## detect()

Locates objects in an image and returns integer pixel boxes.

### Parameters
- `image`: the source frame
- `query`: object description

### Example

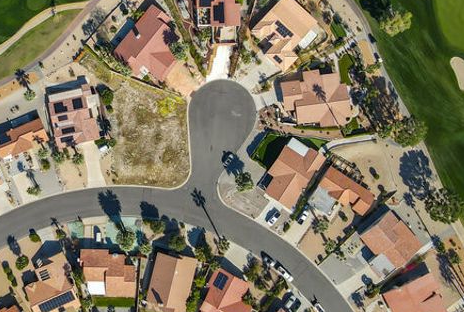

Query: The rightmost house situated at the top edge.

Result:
[253,0,318,69]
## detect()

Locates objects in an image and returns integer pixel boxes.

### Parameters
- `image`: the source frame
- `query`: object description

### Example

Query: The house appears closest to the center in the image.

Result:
[255,137,324,213]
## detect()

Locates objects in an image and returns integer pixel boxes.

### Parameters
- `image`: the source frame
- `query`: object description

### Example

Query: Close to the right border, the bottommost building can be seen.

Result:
[383,271,448,312]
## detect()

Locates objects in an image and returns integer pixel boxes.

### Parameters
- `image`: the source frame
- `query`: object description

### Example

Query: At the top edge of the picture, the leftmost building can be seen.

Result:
[119,9,180,82]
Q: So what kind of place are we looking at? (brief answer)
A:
residential area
